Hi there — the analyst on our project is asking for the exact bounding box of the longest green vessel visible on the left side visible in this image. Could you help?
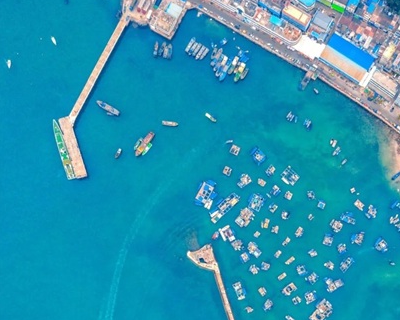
[54,118,72,179]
